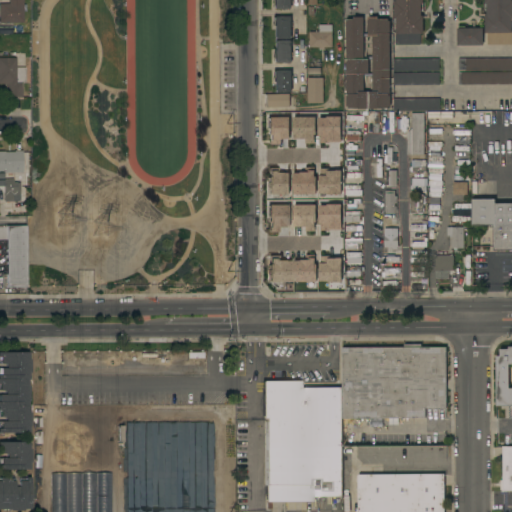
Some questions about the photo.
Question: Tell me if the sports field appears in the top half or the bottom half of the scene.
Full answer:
It is in the top half that the sports field appears.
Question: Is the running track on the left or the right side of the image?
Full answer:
The running track appears in the left half of the scene.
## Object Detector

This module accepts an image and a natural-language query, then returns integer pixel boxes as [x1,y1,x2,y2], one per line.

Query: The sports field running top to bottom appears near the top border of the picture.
[136,0,187,176]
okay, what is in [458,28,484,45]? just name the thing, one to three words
house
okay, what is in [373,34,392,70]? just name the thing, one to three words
building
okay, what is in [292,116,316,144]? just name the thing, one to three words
house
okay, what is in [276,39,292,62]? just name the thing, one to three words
building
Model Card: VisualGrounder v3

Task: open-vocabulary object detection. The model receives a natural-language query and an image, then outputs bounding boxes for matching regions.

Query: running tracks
[126,0,197,186]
